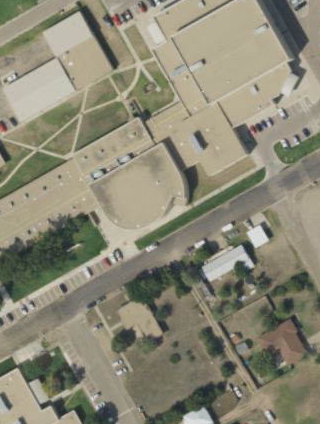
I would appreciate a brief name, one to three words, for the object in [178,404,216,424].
house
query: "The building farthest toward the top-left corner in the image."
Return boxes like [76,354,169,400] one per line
[2,12,116,122]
